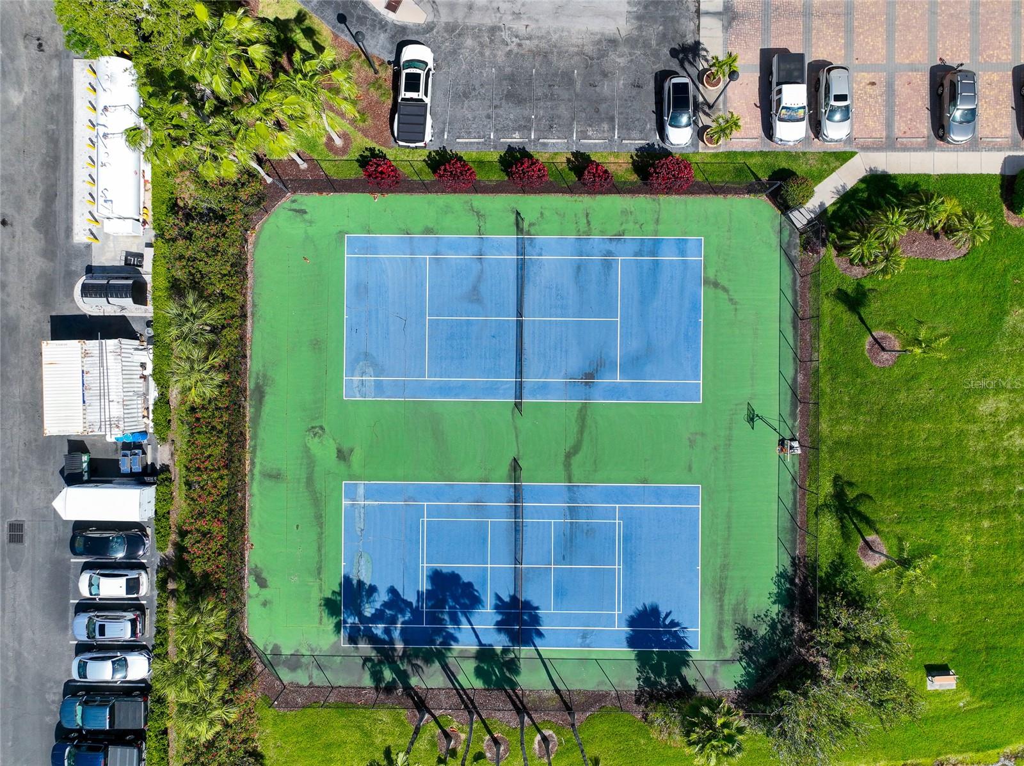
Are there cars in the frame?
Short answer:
Yes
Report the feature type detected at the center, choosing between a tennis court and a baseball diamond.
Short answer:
tennis court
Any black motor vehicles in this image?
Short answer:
Yes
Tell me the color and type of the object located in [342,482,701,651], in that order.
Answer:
blue tennis court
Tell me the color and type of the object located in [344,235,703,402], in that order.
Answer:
blue tennis court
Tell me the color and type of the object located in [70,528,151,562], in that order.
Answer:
black car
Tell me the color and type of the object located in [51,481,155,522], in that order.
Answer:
white trailer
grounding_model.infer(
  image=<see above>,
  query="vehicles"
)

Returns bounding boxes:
[816,65,855,143]
[769,53,810,147]
[395,44,435,148]
[61,689,153,731]
[939,70,981,145]
[73,607,148,644]
[661,75,697,148]
[78,567,153,602]
[53,731,150,766]
[70,528,151,562]
[72,648,153,685]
